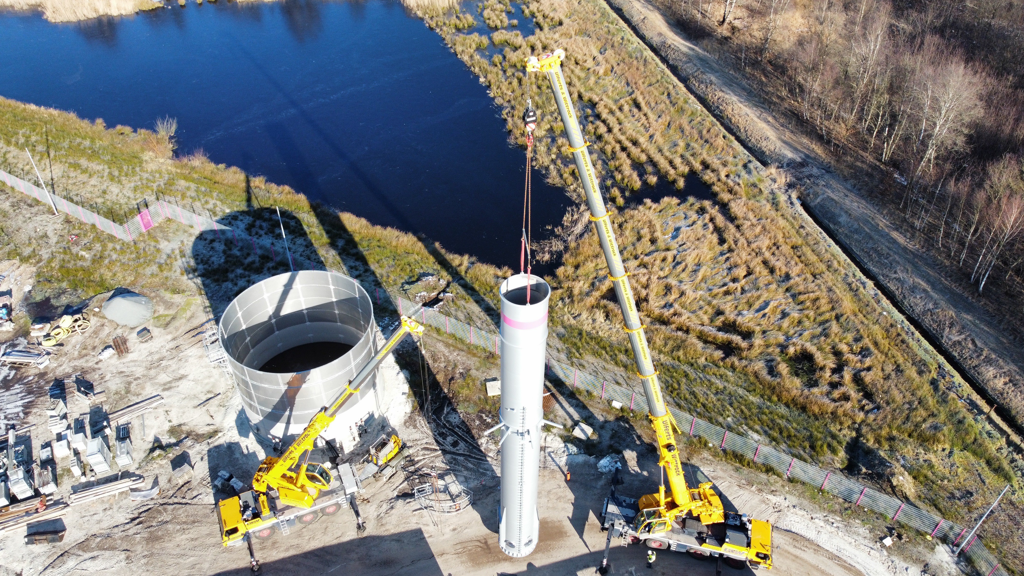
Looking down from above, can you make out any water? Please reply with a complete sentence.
Yes, some water is visible.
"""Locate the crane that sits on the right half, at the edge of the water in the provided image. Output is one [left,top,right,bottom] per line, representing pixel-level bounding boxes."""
[524,51,784,576]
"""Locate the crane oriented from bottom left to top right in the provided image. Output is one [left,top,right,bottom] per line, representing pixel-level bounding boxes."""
[208,322,436,575]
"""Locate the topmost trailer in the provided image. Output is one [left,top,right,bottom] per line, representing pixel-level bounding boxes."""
[355,431,414,479]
